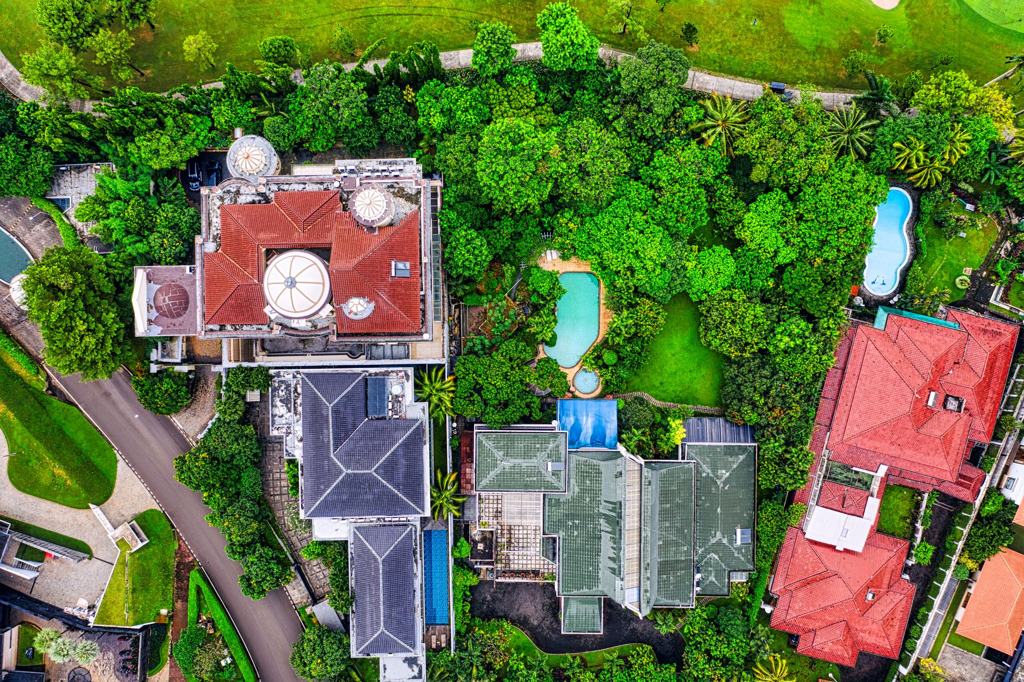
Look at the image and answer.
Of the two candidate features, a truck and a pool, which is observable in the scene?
pool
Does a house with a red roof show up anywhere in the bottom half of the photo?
Yes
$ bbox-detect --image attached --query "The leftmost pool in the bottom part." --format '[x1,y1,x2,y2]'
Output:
[425,529,449,626]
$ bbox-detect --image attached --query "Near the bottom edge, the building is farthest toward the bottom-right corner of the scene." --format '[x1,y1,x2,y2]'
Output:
[951,552,1024,657]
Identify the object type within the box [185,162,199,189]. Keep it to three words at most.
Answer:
car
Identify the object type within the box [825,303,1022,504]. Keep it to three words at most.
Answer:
house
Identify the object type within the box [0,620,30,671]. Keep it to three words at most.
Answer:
shed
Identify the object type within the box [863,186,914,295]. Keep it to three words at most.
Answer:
swimming pool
